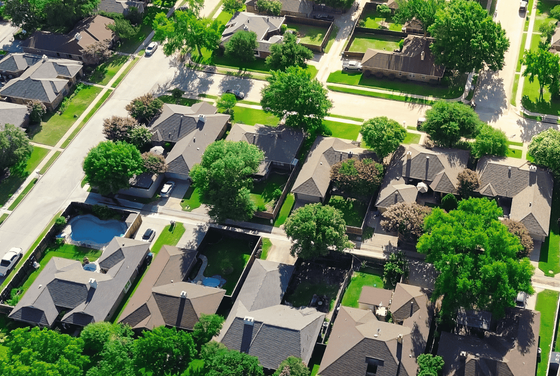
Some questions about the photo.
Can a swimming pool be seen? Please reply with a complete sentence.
Yes, there is a swimming pool in the image.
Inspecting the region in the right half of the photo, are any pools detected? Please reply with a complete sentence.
No, no pool appears in the right half of the photo.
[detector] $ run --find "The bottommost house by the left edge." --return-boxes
[8,237,152,331]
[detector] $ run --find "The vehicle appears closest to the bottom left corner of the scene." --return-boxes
[0,250,23,275]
